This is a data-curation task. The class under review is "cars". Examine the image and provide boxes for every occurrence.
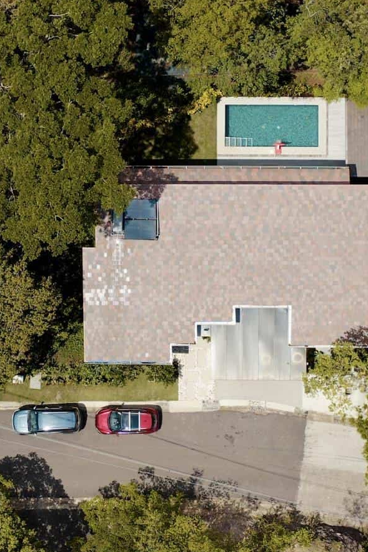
[10,408,81,440]
[95,408,157,440]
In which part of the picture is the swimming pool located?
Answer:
top right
